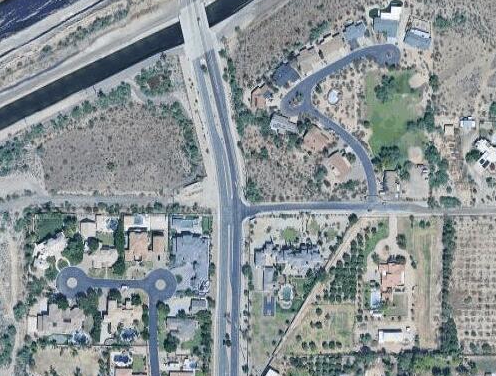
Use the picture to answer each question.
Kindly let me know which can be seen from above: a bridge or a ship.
bridge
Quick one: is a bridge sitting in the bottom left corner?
No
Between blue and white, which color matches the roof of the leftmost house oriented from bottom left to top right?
white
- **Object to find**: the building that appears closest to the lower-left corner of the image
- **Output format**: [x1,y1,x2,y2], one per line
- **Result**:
[41,304,87,332]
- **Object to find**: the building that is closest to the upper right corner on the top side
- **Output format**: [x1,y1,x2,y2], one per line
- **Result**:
[406,28,431,51]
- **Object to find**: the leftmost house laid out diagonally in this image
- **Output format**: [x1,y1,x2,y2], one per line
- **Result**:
[31,230,70,271]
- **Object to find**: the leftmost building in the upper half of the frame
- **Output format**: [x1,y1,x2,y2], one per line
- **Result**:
[252,83,272,104]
